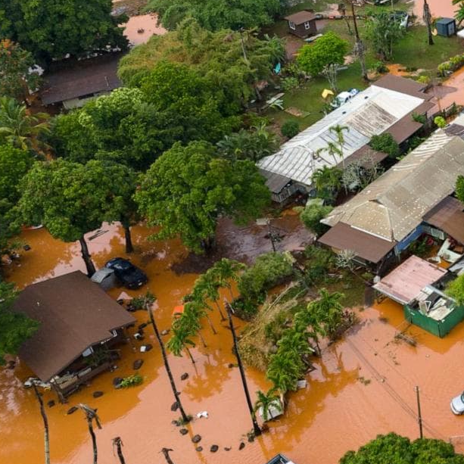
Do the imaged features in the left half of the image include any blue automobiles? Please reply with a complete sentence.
No, the scene shows no blue automobile in the left half of the image.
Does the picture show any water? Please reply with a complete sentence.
Yes, water can be seen from above here.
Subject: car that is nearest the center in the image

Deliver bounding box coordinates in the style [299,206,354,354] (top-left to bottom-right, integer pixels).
[112,256,149,286]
